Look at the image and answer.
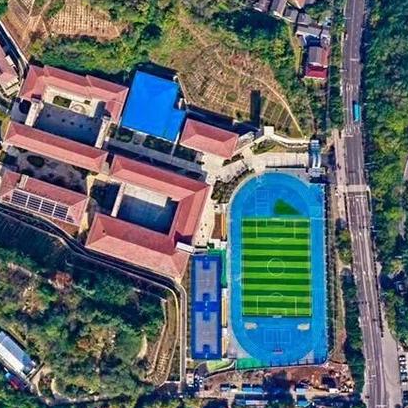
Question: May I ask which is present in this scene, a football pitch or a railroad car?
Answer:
football pitch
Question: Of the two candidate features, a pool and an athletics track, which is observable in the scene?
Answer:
athletics track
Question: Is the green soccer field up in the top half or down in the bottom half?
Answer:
bottom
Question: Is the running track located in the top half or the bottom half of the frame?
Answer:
bottom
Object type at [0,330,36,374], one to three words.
building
